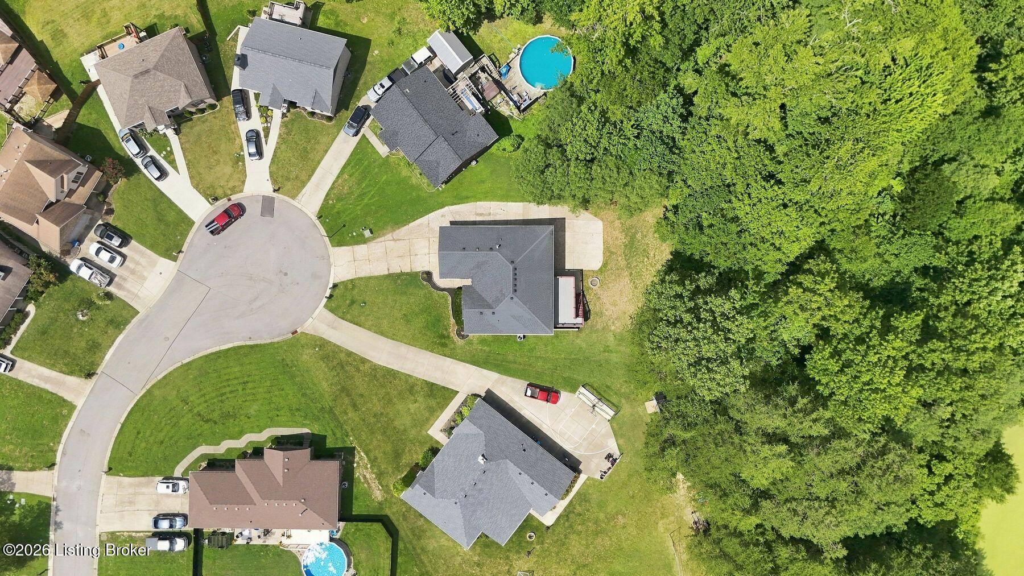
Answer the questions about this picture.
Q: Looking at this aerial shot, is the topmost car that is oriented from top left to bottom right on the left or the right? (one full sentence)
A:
It is on the left.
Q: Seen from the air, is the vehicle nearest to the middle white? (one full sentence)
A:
No, the color of the vehicle nearest to the middle is red.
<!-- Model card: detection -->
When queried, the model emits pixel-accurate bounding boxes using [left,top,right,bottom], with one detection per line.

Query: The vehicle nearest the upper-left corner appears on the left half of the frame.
[116,128,151,161]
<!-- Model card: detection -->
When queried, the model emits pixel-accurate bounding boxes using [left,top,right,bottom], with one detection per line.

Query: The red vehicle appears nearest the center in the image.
[524,385,561,405]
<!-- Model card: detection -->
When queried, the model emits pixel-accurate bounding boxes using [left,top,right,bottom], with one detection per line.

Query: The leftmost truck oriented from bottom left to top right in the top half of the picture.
[203,204,246,236]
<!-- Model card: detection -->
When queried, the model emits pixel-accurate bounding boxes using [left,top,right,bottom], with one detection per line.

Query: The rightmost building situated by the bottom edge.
[400,397,576,549]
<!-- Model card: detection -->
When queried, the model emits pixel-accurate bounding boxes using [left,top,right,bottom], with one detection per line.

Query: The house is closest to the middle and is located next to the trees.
[438,226,555,335]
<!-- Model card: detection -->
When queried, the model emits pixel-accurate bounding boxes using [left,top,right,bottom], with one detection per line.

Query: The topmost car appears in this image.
[401,42,436,74]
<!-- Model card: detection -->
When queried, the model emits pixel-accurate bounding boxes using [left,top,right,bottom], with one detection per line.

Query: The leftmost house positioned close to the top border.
[93,26,216,133]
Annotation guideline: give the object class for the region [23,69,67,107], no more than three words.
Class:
gazebo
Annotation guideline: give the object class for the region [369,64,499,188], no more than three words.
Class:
house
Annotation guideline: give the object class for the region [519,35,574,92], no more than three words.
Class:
swimming pool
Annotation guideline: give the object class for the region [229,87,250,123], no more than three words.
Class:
car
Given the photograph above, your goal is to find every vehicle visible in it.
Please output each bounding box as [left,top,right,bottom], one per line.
[401,42,436,74]
[367,60,410,104]
[145,535,190,554]
[88,240,127,269]
[154,478,188,497]
[93,221,132,249]
[203,204,246,236]
[116,128,151,161]
[243,128,263,161]
[0,353,16,373]
[229,87,250,123]
[67,256,114,291]
[152,513,188,531]
[342,102,370,139]
[524,385,561,405]
[138,153,170,186]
